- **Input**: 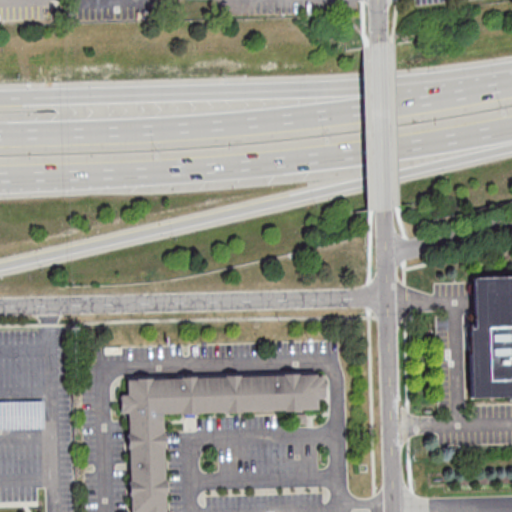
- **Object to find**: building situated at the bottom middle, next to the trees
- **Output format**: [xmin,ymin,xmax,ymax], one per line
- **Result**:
[124,373,327,512]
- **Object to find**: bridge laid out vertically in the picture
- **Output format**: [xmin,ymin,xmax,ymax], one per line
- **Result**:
[350,42,414,212]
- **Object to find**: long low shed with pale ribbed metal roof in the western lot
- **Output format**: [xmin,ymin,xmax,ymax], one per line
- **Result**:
[0,402,46,430]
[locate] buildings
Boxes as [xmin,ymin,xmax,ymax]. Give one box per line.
[124,373,327,512]
[472,277,512,400]
[0,402,46,430]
